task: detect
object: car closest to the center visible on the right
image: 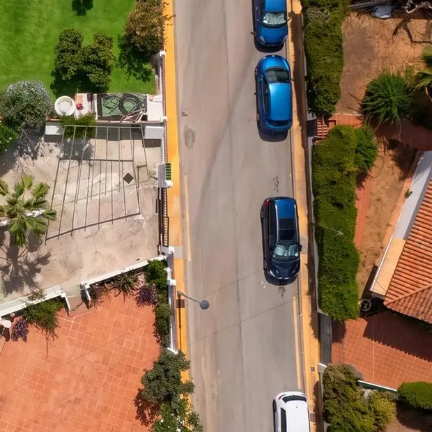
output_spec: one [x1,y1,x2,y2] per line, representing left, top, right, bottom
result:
[259,197,307,279]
